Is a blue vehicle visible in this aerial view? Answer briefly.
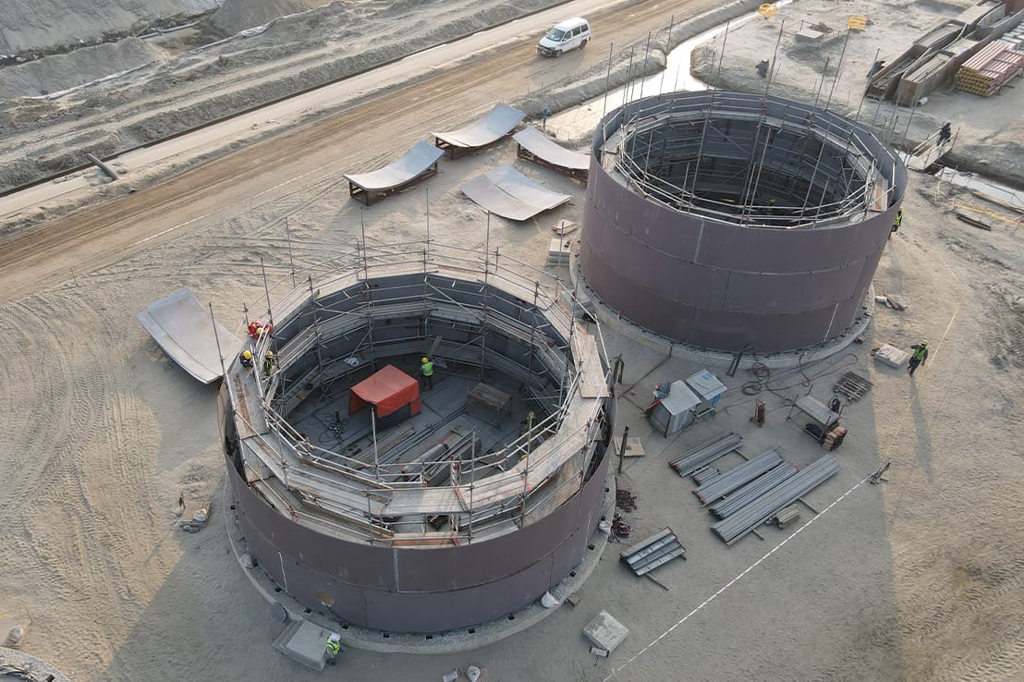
No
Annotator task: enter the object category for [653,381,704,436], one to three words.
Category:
shed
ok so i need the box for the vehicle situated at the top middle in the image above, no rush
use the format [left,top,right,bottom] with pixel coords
[534,16,596,55]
